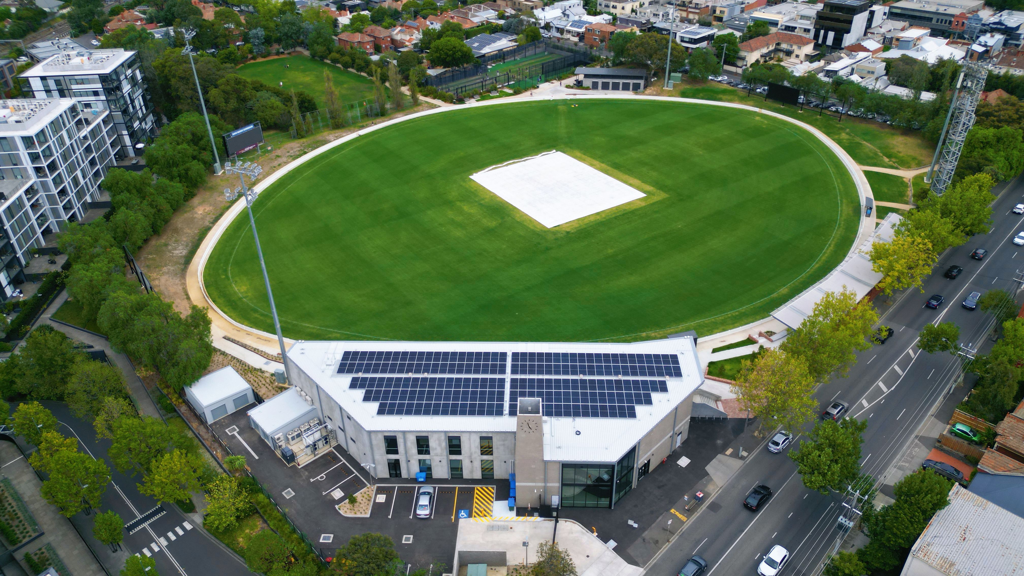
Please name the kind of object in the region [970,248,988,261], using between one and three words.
vehicle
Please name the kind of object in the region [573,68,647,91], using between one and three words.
shed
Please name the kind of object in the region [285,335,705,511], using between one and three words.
building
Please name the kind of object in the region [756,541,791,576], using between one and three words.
car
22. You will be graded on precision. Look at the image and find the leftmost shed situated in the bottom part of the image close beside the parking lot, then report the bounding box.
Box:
[182,364,256,426]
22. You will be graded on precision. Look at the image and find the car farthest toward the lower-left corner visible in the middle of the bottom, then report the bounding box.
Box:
[415,486,435,519]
